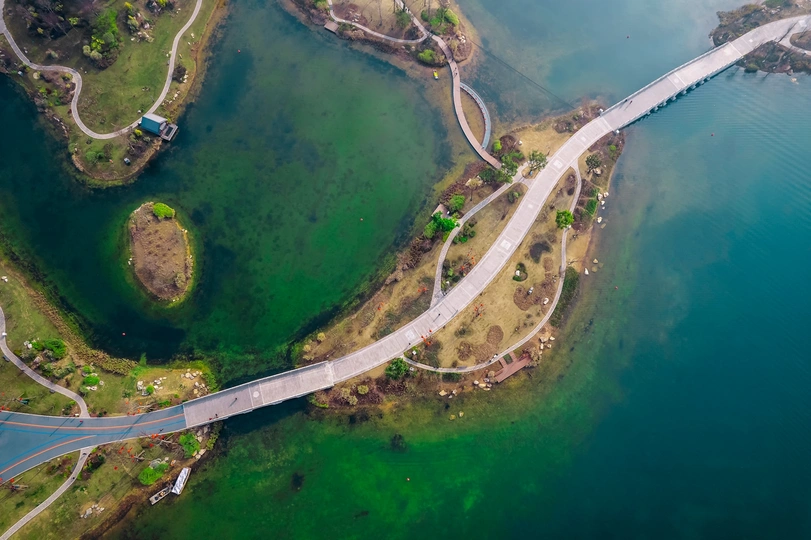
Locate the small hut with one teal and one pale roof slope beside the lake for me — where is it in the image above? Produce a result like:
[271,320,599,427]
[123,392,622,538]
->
[139,113,168,135]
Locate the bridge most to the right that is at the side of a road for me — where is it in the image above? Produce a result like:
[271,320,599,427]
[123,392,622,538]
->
[600,40,744,131]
